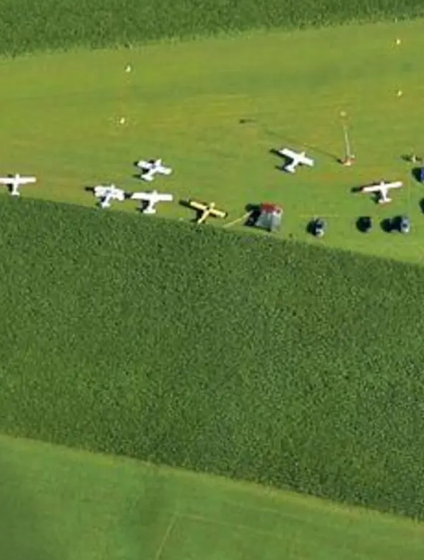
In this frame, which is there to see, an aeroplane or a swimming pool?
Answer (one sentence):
Looking from above, you can make out an aeroplane.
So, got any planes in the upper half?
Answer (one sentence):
Yes, you'll find a plane in the upper half.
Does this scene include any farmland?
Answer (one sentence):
Yes, farmland can be seen from above here.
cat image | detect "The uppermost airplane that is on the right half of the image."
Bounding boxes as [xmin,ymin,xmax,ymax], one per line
[279,148,315,173]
